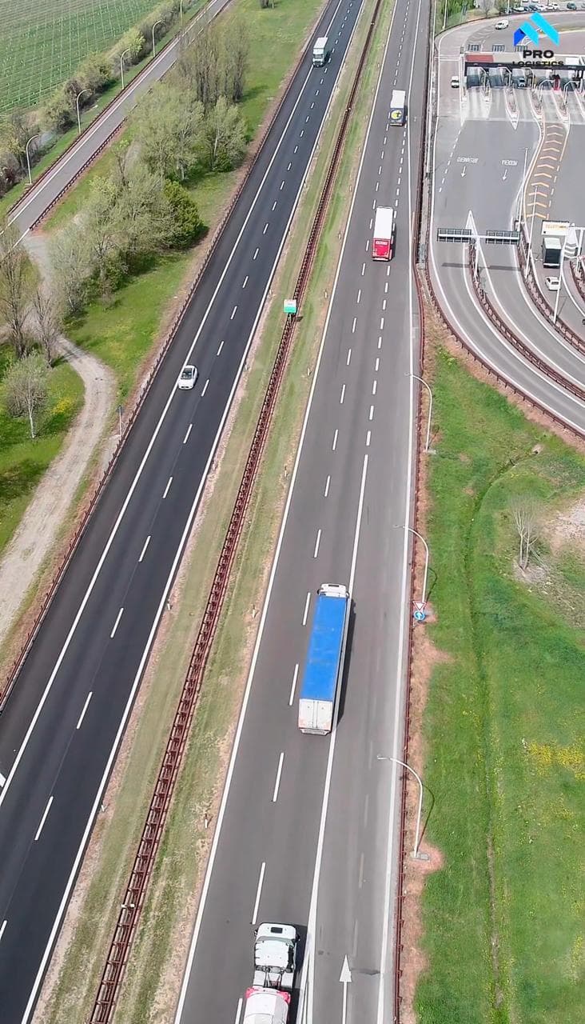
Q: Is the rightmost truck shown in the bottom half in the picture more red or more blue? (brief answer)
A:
blue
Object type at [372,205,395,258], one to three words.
truck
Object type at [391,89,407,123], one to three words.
vehicle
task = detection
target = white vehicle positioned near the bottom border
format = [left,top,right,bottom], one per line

[241,922,300,1024]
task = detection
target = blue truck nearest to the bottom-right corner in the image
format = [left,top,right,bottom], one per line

[299,584,351,734]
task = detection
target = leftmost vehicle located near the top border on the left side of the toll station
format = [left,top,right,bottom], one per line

[314,35,331,65]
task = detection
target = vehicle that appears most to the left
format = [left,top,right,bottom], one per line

[176,362,197,384]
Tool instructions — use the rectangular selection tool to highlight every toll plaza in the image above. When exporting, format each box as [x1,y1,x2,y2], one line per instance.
[451,40,585,123]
